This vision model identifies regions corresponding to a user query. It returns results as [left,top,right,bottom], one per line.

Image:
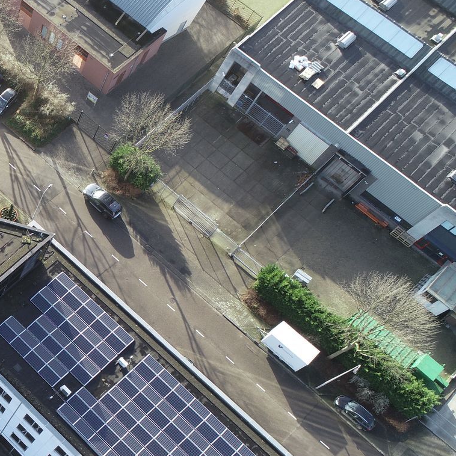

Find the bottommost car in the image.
[331,392,382,433]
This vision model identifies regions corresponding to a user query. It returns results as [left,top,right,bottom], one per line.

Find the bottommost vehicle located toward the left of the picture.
[84,183,124,218]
